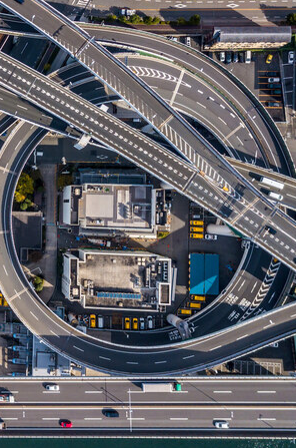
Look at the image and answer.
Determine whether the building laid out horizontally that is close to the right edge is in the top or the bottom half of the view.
top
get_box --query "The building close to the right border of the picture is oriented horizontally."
[199,25,294,51]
